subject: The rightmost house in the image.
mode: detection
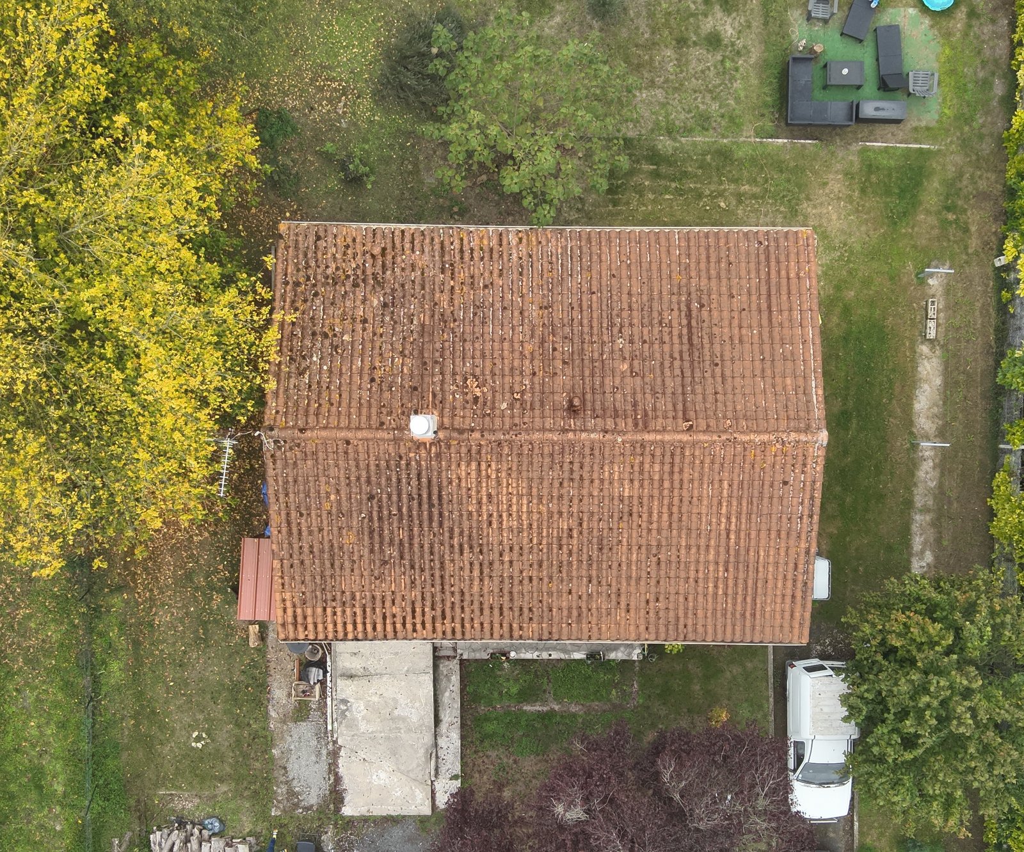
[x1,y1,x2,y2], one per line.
[264,221,832,648]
